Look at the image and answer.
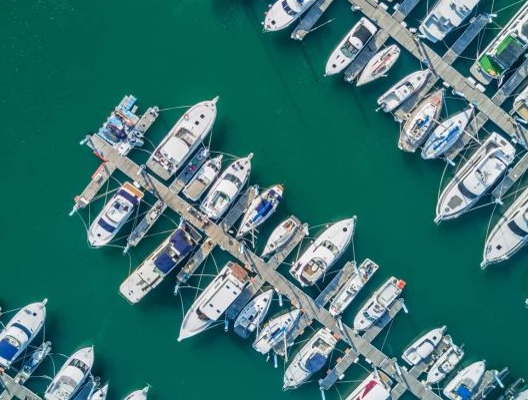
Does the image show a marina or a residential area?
marina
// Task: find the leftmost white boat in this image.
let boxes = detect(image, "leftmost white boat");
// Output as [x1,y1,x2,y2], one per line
[0,299,46,366]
